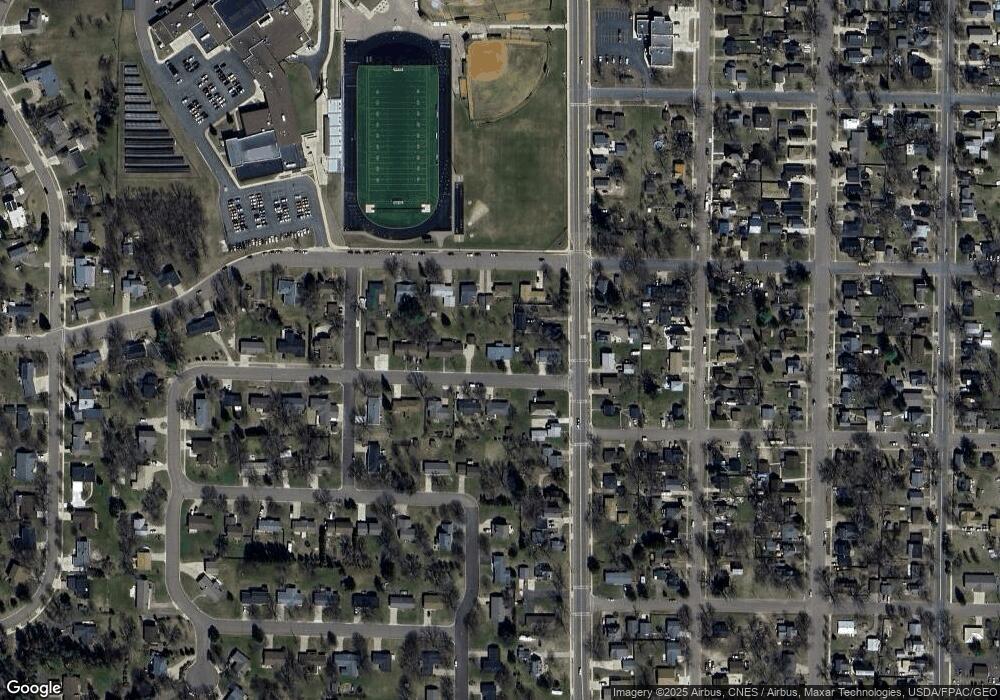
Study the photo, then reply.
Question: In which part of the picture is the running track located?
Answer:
top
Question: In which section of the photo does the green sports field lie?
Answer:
top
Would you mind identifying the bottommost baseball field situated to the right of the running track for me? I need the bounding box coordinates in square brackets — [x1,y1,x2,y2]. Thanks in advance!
[461,38,549,121]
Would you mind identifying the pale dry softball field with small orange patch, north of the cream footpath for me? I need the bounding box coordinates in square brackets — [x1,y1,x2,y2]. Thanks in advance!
[420,0,566,24]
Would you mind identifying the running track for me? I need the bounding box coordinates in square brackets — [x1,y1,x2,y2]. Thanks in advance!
[344,31,452,239]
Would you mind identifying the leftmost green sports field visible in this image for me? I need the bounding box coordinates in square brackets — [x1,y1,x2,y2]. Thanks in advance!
[357,65,438,229]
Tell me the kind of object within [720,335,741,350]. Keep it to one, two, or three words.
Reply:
house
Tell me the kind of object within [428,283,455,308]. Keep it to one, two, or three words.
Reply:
house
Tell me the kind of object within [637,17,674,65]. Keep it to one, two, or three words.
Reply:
building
